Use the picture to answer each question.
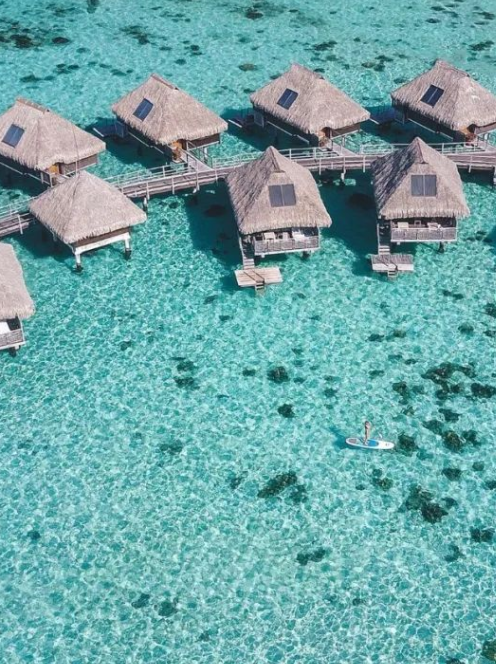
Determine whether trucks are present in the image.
No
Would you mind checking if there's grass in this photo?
No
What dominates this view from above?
water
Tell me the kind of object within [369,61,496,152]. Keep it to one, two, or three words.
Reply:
house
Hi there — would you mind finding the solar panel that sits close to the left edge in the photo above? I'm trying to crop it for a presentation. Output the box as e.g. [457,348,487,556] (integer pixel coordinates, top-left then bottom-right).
[1,123,25,148]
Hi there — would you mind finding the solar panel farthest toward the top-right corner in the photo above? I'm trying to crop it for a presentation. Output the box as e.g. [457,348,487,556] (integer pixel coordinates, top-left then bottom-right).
[420,85,445,107]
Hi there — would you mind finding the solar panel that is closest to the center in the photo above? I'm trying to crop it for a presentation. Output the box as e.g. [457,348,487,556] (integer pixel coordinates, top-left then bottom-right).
[269,186,297,209]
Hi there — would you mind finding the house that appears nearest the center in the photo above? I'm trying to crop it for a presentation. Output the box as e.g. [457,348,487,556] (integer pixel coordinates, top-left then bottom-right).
[227,147,333,291]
